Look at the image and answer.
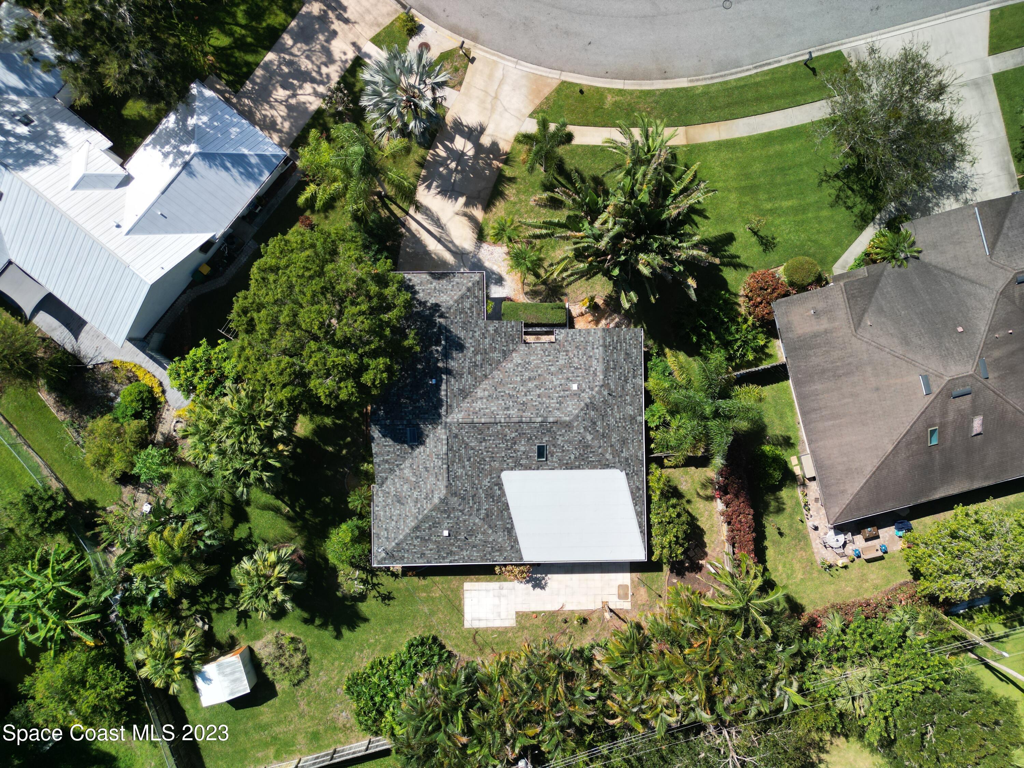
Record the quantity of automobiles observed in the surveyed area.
none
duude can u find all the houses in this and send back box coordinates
[0,2,293,350]
[370,270,649,567]
[770,188,1024,527]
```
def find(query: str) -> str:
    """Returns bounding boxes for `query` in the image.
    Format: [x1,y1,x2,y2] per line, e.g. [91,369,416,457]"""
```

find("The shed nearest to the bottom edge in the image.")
[193,645,259,706]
